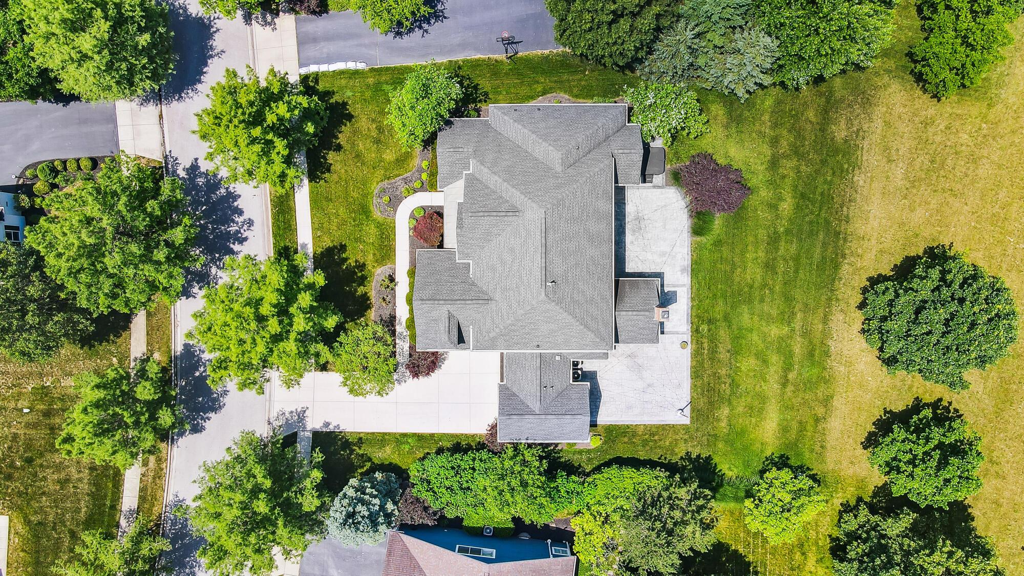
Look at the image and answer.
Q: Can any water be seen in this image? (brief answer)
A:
No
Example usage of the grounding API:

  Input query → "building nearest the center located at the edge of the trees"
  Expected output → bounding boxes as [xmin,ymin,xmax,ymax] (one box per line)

[412,103,670,444]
